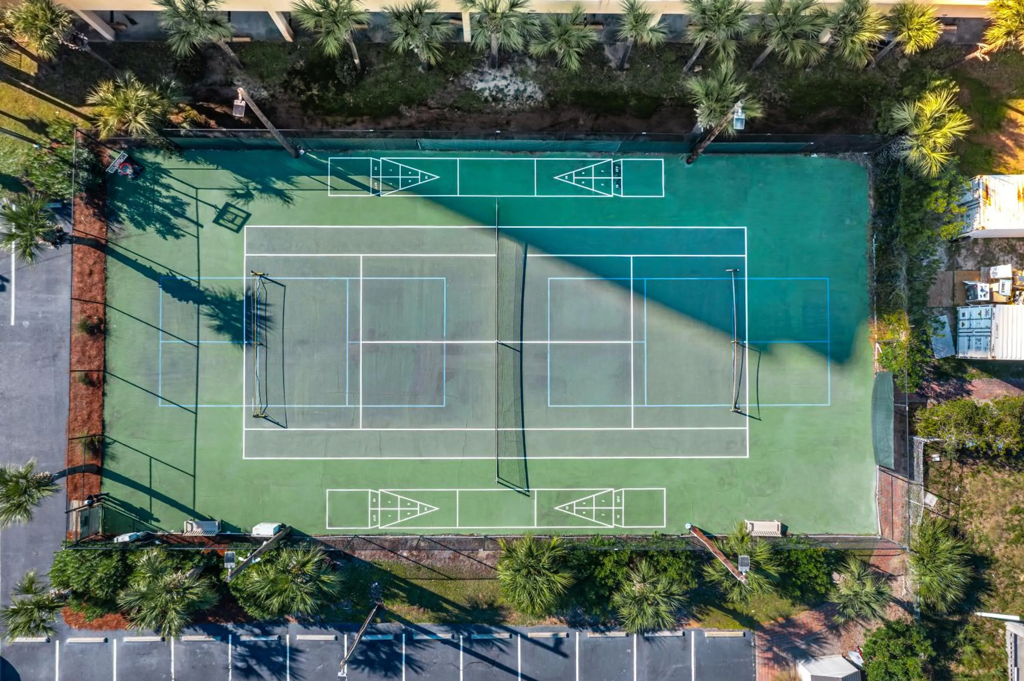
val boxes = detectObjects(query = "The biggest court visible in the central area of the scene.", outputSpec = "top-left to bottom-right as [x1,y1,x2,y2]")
[101,150,879,535]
